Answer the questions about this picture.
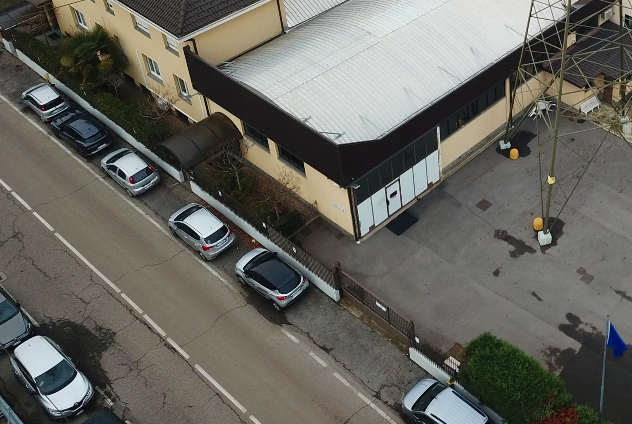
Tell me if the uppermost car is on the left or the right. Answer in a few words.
left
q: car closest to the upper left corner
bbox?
[21,80,74,122]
